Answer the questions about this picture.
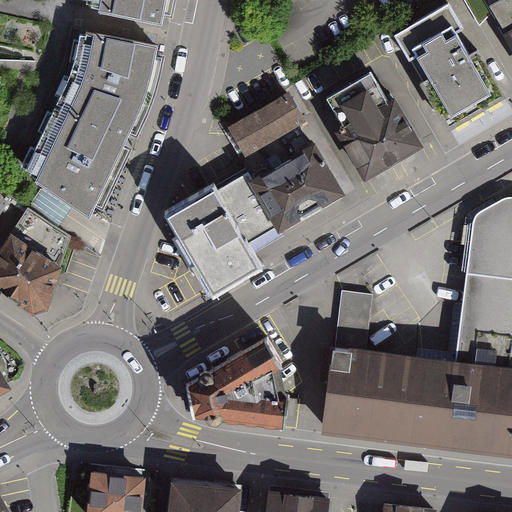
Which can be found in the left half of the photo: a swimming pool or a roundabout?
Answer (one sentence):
It is a roundabout that can be seen in the left half of the photo.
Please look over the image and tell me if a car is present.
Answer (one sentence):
Yes, looking at the shot, I can spot a car.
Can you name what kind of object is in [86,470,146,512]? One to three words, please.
house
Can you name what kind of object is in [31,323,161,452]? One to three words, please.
roundabout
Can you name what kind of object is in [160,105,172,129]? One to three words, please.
vehicle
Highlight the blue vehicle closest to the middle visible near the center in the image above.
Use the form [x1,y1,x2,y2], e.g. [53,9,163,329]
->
[288,248,312,266]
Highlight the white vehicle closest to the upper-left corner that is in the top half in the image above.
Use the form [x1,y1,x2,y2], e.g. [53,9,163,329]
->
[176,47,189,74]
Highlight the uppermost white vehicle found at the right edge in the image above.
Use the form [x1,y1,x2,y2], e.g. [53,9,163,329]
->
[487,58,504,81]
